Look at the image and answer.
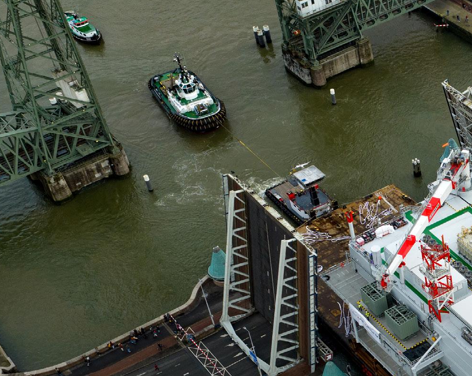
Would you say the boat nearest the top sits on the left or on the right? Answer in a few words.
left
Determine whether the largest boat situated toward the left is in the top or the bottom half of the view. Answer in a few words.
top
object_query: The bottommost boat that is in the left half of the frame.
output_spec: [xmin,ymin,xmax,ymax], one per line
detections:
[146,53,231,133]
